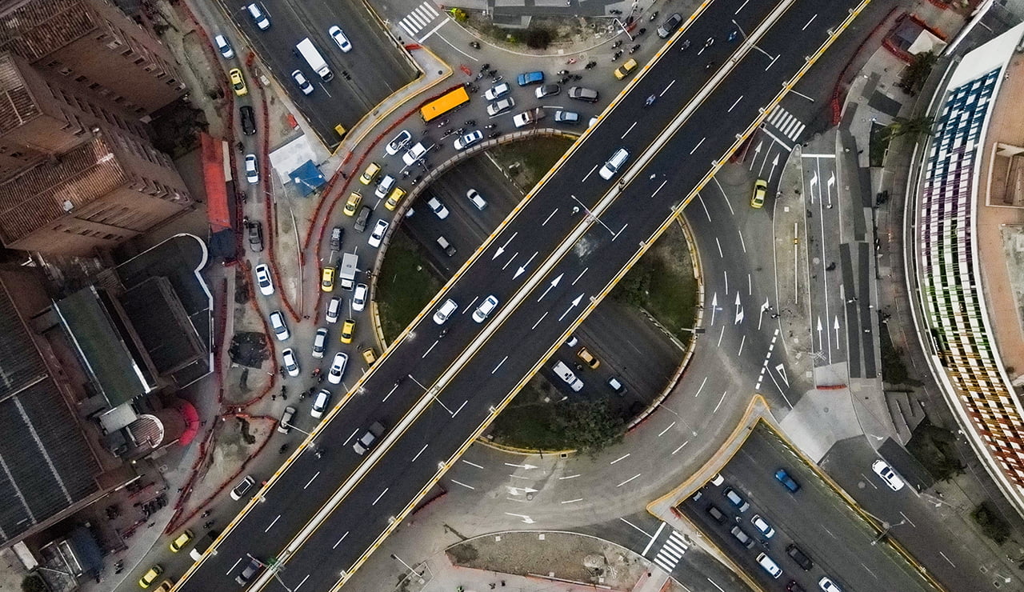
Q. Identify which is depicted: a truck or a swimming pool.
truck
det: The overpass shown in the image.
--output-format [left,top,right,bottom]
[164,0,871,592]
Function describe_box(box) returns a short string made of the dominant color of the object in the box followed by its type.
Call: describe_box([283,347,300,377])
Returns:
white car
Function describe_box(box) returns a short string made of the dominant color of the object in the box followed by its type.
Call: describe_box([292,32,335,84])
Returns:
white truck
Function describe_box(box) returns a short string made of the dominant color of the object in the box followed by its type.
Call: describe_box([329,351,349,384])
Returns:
white car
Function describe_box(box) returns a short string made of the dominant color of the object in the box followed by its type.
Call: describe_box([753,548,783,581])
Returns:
white van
